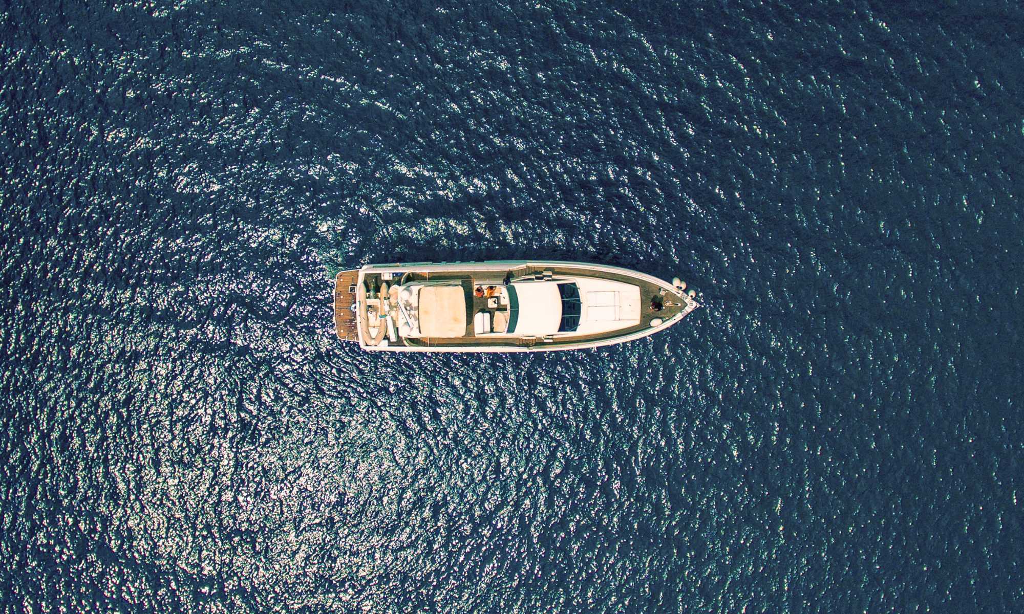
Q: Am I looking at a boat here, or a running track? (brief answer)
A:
boat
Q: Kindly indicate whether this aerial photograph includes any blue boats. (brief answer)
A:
No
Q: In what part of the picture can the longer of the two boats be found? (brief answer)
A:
center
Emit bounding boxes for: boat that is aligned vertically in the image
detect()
[362,278,388,343]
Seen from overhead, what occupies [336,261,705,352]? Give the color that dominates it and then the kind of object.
white boat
